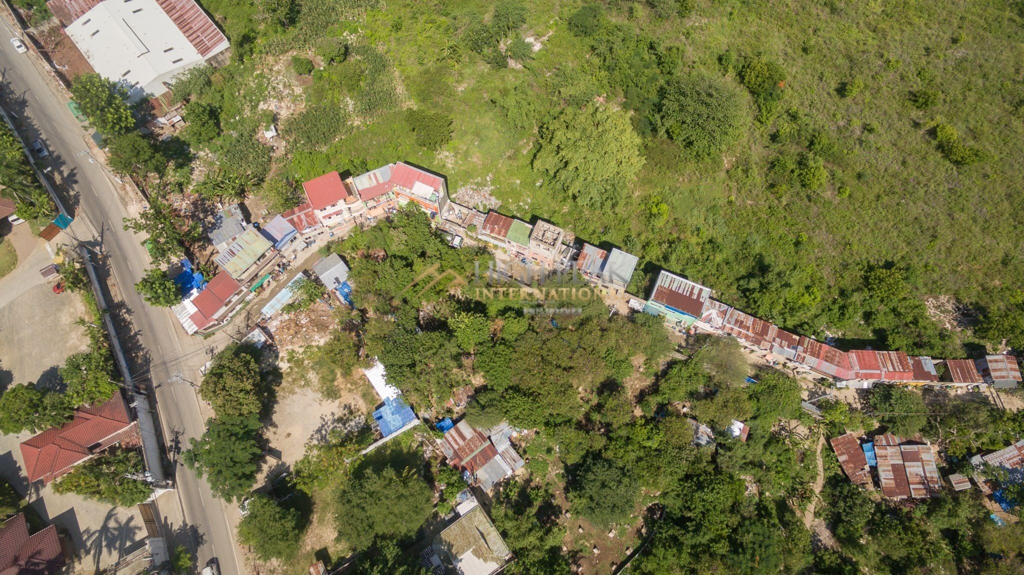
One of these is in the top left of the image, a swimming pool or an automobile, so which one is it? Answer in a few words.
automobile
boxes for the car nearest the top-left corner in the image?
[10,37,26,55]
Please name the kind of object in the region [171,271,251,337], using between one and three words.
house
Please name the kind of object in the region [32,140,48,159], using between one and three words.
car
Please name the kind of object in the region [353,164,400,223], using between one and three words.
building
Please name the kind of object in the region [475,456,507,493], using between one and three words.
shed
